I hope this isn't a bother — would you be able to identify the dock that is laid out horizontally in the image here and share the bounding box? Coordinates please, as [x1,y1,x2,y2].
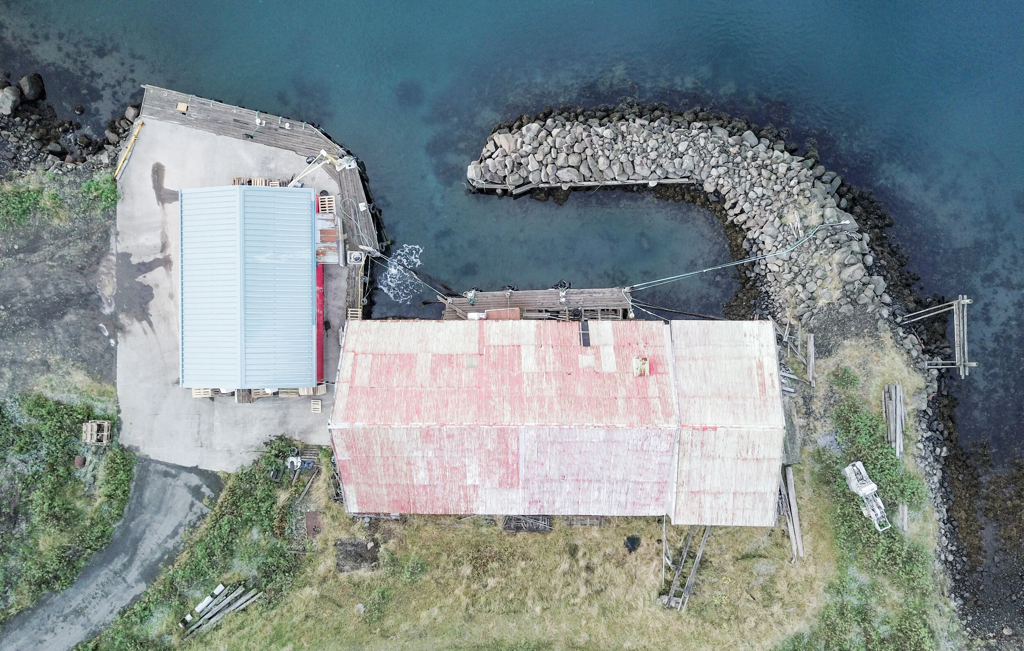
[436,285,647,321]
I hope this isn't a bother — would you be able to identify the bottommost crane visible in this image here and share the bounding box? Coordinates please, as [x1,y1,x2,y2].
[286,146,342,187]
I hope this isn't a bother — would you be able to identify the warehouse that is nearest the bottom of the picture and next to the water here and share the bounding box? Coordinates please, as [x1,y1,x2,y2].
[328,307,804,527]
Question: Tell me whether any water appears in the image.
Yes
